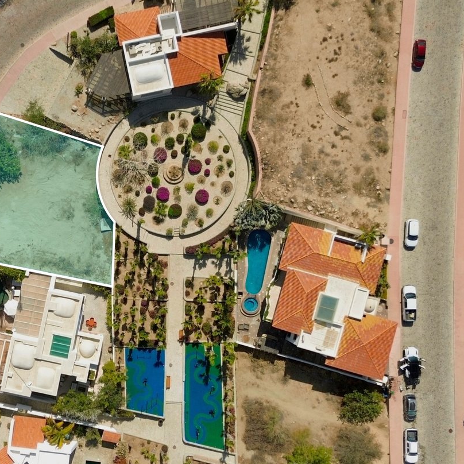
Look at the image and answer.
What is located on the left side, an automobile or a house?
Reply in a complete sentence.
The feature located on the left side is a house.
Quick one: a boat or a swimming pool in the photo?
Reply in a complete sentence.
The one in the frame is a swimming pool.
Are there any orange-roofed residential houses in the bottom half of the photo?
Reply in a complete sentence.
Yes, an orange-roofed residential house appears in the bottom half of the photo.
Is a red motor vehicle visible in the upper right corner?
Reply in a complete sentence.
Yes, a red motor vehicle appears in the upper right corner.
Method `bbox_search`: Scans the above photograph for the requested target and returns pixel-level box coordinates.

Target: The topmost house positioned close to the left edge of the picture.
[0,272,103,397]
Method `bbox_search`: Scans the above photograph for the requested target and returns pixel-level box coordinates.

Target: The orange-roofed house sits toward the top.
[114,5,237,102]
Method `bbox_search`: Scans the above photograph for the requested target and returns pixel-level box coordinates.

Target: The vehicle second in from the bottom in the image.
[403,393,419,422]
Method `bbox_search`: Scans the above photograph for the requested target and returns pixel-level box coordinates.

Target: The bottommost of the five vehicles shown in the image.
[403,428,420,464]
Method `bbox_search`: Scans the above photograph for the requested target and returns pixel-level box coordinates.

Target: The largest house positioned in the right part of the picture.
[268,222,398,382]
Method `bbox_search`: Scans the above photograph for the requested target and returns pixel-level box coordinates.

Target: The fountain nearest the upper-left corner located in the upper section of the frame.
[165,161,186,183]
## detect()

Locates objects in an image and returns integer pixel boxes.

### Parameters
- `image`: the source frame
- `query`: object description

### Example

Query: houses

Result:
[114,5,237,102]
[268,222,398,382]
[0,272,103,397]
[0,409,78,464]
